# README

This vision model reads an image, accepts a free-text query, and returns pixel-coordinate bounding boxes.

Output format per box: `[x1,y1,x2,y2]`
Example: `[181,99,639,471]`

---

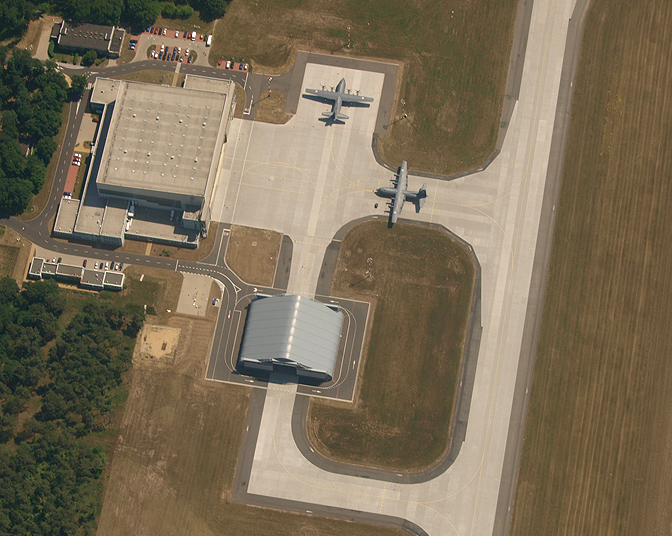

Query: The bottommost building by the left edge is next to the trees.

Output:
[29,257,126,292]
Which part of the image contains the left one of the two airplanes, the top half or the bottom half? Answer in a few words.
top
